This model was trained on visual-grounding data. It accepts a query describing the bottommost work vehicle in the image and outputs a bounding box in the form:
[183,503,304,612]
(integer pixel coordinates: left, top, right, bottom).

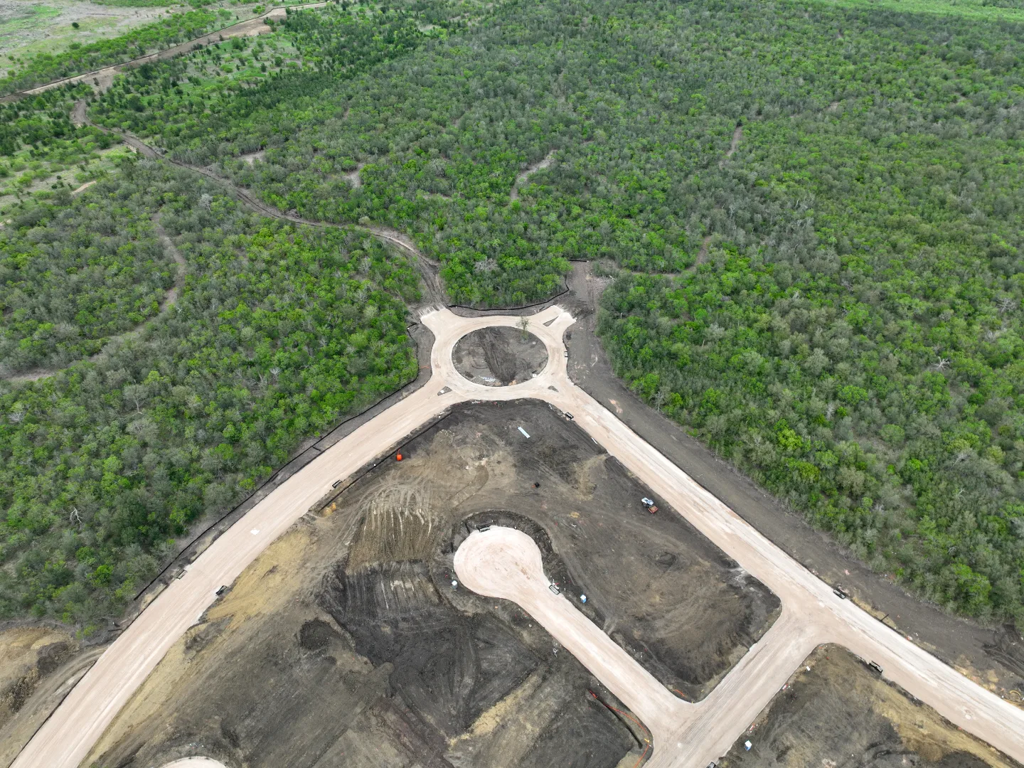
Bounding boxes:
[642,496,664,517]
